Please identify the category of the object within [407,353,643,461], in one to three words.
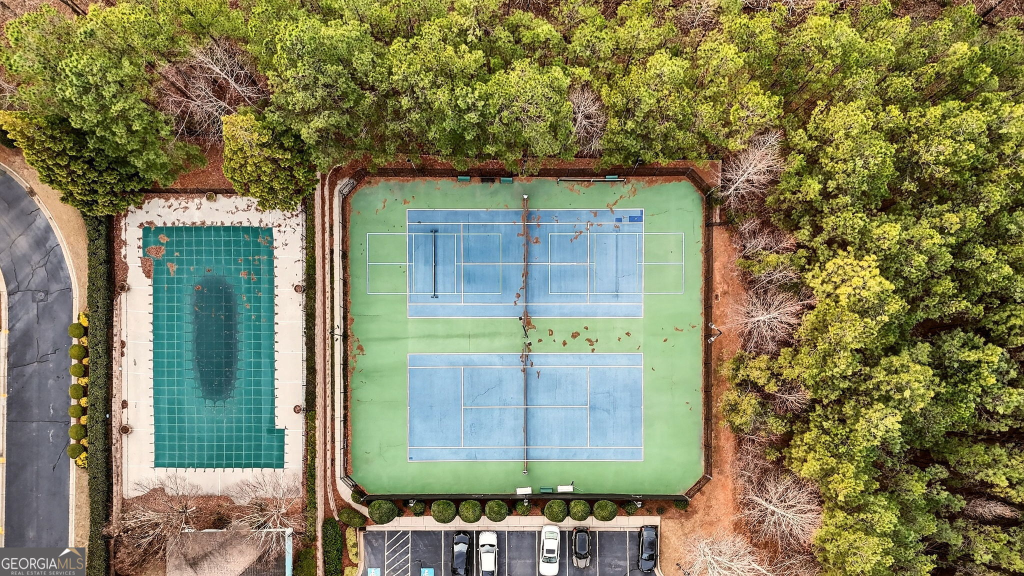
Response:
tennis court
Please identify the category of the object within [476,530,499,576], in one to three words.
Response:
car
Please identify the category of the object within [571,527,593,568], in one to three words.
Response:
car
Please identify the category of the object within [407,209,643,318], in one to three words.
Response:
tennis court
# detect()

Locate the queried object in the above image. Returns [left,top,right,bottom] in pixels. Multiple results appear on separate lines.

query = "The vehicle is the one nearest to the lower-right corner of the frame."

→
[639,526,661,573]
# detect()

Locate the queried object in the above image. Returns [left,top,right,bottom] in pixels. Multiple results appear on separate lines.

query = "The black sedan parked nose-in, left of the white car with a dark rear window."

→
[449,531,471,576]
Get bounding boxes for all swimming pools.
[138,223,288,472]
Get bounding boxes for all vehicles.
[539,525,561,575]
[639,526,661,573]
[571,527,593,568]
[476,530,499,576]
[449,531,471,576]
